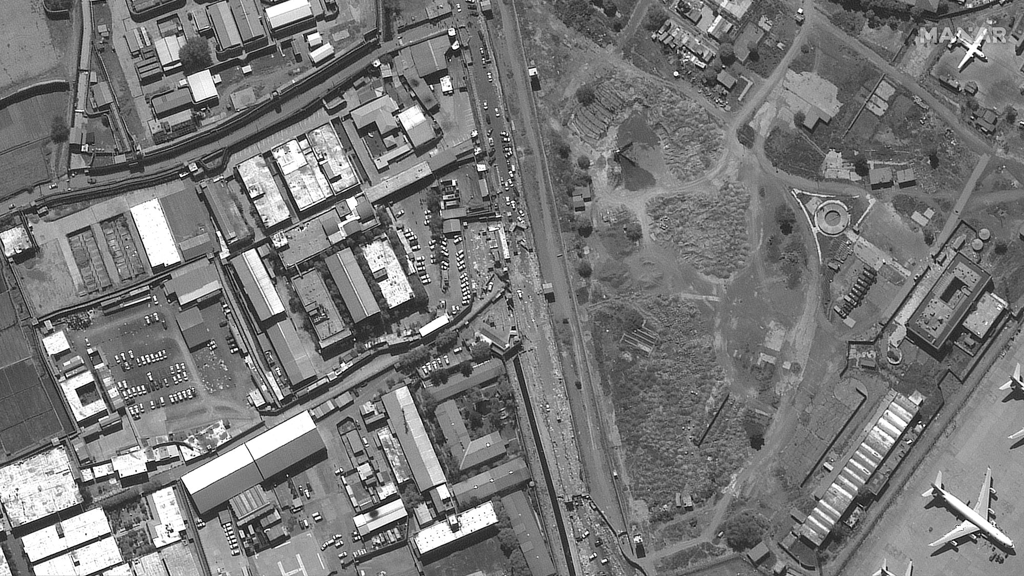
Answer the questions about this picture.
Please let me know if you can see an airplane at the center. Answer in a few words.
No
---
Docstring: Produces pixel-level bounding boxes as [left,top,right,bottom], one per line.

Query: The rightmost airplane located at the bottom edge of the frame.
[921,466,1014,548]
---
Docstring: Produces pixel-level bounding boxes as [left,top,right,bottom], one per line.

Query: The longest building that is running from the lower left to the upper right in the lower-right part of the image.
[800,393,918,547]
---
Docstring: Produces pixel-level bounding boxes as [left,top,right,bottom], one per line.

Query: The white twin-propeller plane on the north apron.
[952,30,990,70]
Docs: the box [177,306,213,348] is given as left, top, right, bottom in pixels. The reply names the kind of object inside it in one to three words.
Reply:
shed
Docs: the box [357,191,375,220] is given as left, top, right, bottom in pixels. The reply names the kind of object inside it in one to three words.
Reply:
house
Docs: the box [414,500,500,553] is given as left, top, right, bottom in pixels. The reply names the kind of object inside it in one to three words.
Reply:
building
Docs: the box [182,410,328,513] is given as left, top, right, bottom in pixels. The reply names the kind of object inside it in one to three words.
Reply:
hangar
